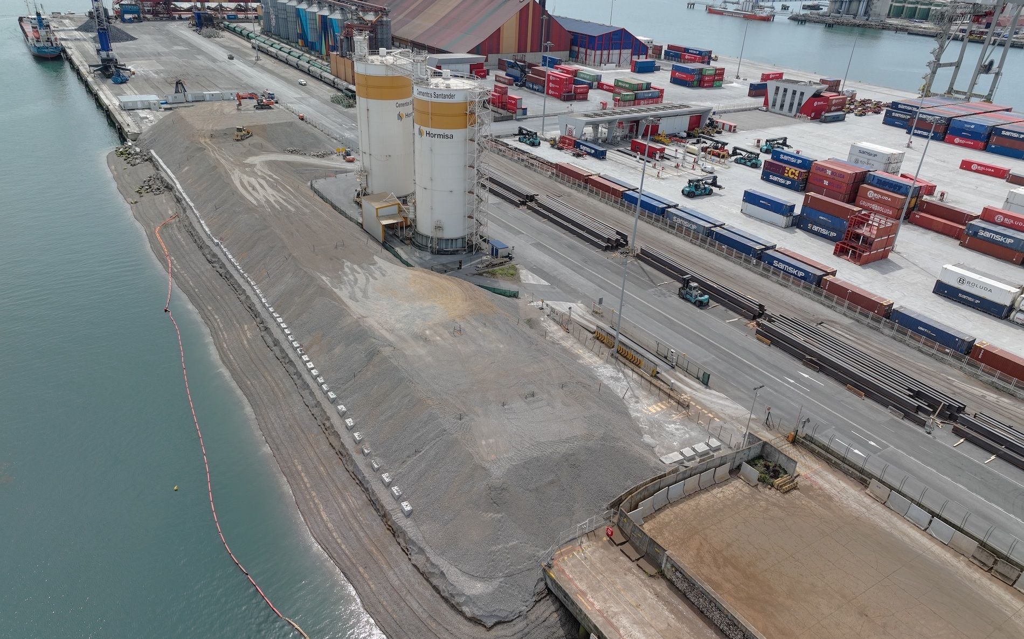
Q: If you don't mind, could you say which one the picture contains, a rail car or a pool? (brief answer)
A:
rail car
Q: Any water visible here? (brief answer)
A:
Yes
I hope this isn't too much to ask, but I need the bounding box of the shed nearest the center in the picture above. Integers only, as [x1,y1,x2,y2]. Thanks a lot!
[488,238,514,258]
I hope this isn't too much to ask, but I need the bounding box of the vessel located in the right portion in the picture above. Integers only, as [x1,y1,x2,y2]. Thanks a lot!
[705,0,783,20]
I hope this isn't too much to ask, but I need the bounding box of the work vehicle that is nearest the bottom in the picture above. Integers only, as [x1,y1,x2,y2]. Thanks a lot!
[672,275,707,306]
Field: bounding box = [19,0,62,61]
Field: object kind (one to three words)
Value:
ship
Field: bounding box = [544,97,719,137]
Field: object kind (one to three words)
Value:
building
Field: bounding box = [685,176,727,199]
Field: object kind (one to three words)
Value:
work vehicle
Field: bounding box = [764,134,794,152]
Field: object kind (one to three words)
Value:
work vehicle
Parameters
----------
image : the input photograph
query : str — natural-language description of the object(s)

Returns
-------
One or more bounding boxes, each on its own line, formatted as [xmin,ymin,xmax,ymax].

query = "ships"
[19,0,62,61]
[705,0,783,20]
